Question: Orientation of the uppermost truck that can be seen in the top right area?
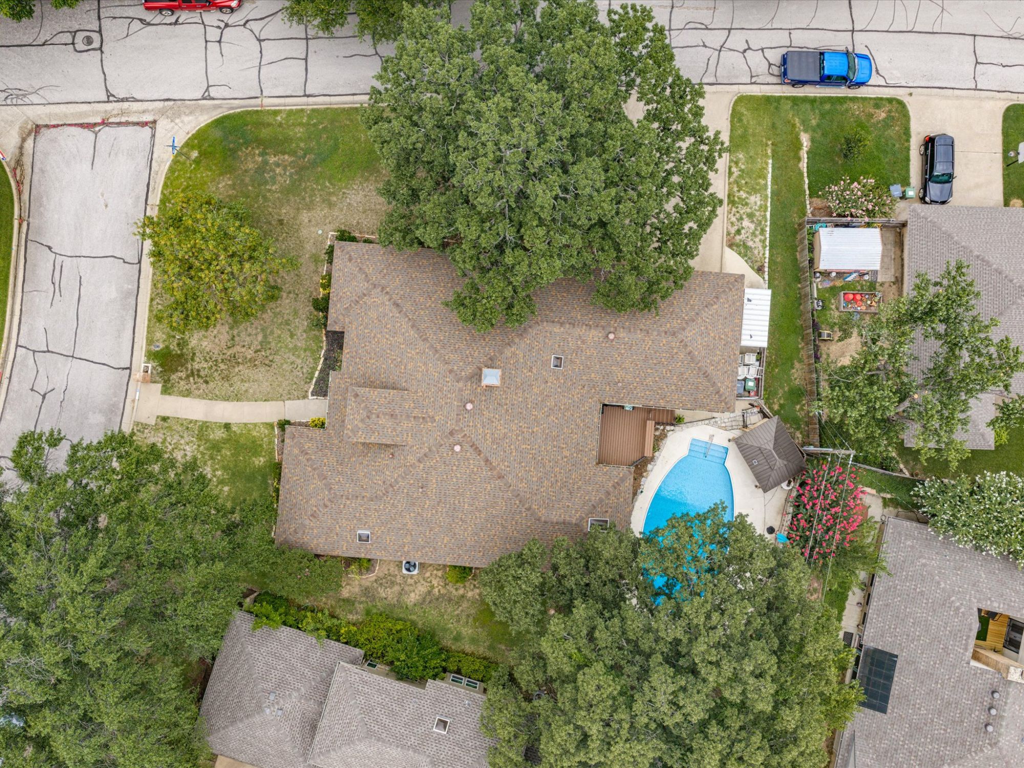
horizontally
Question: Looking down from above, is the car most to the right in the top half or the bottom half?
top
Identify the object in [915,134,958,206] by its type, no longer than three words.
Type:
car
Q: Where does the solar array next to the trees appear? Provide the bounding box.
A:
[860,645,900,716]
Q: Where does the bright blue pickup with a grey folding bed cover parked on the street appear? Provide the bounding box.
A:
[776,48,871,92]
